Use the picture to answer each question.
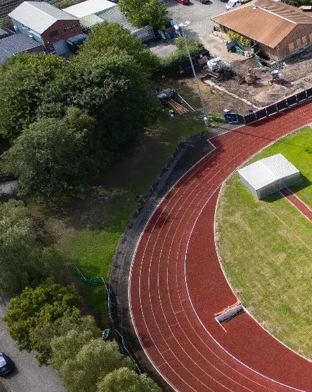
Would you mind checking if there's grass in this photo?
Yes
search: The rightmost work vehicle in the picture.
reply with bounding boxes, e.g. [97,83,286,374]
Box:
[268,64,293,84]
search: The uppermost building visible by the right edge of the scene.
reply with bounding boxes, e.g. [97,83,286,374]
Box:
[210,0,312,60]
